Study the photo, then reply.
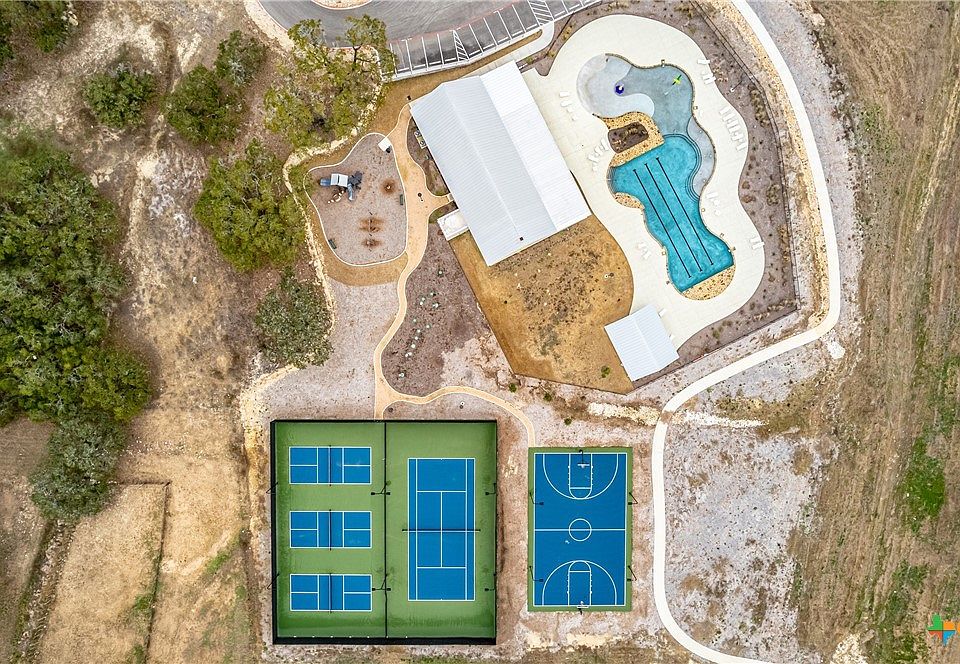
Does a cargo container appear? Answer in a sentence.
No, I can see no cargo container in this picture.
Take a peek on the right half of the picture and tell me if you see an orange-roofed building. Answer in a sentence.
No, looking on the right half of the picture, there is no orange-roofed building.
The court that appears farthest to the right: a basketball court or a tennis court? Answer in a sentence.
I'd identify the court that appears farthest to the right as a basketball court.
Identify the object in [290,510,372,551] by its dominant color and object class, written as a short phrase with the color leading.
blue sports court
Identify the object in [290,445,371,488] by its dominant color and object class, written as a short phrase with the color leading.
blue sports court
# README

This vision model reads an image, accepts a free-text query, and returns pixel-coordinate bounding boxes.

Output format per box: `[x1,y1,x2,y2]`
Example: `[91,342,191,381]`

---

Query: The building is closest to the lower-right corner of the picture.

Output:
[605,305,679,382]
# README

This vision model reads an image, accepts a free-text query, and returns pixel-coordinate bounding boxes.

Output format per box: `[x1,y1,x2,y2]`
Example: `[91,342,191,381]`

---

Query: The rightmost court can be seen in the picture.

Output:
[528,447,632,611]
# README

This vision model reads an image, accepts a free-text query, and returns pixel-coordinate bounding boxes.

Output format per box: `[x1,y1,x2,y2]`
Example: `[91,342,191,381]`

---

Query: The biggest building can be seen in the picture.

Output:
[408,60,592,266]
